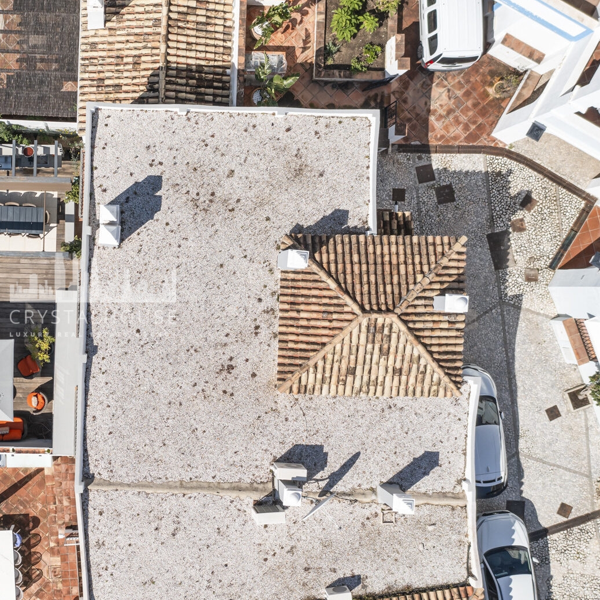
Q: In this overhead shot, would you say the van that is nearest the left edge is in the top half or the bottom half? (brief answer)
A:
top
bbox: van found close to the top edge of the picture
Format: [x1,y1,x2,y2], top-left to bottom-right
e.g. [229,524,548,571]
[410,0,485,71]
